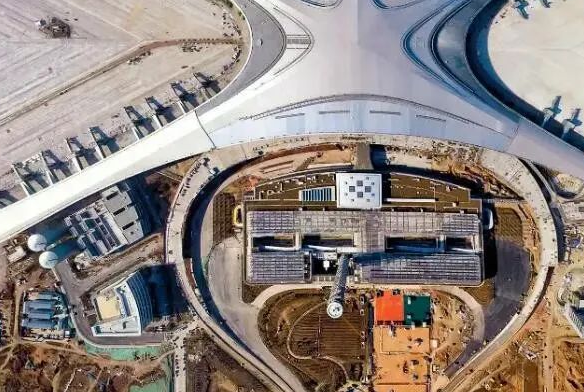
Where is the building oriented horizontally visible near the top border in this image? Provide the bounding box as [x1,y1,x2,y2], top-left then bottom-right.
[194,0,520,152]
